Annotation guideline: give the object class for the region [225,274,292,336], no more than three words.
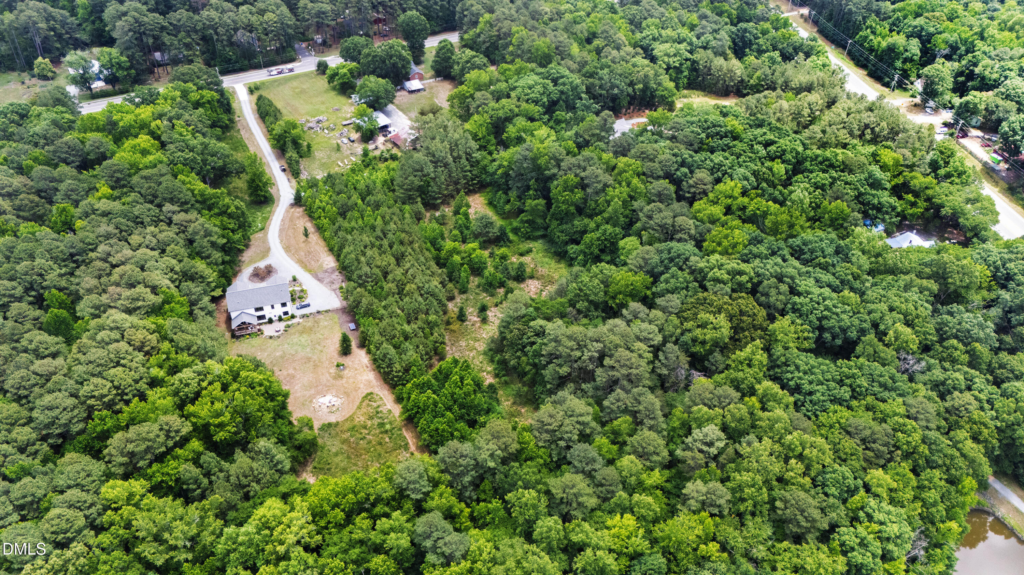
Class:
house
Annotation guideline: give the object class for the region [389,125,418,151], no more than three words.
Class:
barn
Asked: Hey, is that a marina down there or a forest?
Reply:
forest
